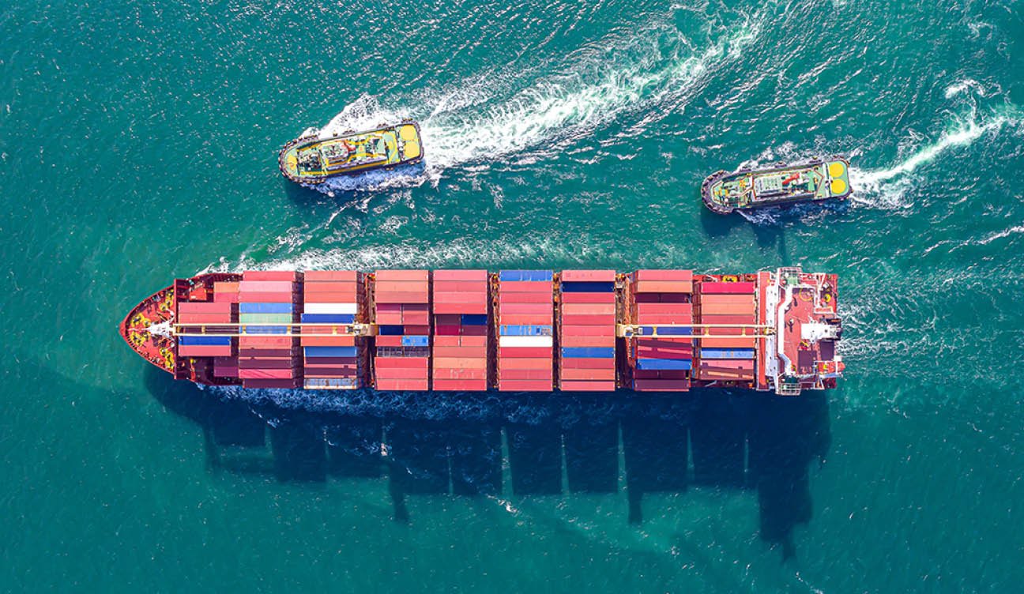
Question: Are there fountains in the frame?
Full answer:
No, the scene contains no fountain.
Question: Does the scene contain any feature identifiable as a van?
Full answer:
No, I find no van anywhere in the image.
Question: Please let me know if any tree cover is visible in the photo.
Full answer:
No, there's no tree cover in this view.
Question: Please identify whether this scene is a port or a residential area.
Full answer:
What you see here is a port.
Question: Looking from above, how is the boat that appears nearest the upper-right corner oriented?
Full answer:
What the image shows is the boat that appears nearest the upper-right corner lying horizontally.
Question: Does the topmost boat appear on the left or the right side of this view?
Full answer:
The topmost boat appears in the left half of the scene.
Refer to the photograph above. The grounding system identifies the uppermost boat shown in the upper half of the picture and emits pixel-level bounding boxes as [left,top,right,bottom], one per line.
[276,122,426,184]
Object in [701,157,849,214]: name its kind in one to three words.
boat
